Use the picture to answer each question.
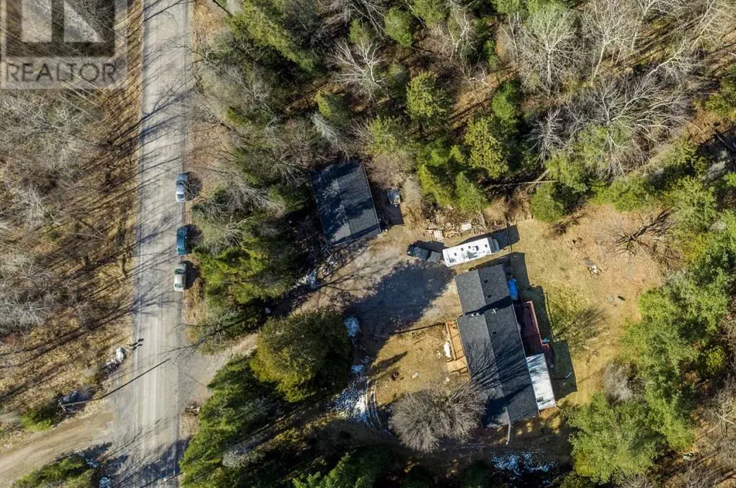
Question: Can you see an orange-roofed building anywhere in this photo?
No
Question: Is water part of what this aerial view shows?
No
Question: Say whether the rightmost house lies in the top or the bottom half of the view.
bottom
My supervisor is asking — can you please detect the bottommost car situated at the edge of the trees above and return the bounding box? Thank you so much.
[172,263,188,292]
